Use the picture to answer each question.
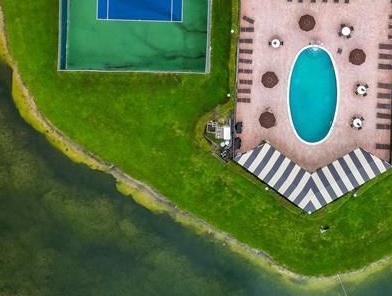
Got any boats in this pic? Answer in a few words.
No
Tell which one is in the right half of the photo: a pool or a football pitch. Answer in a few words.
pool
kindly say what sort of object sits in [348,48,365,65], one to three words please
umbrella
